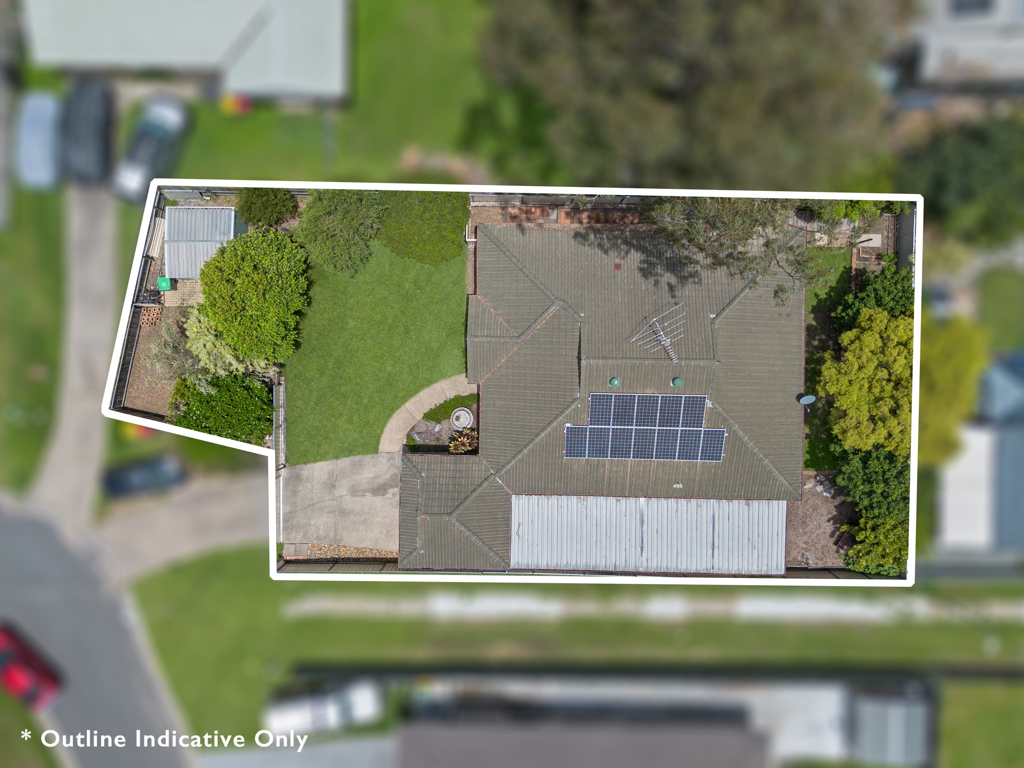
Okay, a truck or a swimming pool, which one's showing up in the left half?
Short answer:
truck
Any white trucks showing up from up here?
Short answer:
Yes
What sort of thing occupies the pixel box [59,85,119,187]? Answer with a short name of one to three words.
van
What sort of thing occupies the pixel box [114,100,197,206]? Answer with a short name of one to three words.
car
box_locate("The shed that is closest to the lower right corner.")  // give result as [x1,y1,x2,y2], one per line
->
[839,690,923,763]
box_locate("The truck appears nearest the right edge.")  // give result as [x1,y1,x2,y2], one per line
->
[264,677,383,740]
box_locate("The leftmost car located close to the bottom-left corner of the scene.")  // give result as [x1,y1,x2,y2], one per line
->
[0,614,74,708]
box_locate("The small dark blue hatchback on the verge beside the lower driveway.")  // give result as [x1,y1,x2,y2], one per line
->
[108,450,195,497]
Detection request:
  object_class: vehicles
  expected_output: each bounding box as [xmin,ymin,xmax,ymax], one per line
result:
[59,85,119,187]
[264,677,383,740]
[114,100,197,206]
[0,614,74,708]
[108,450,195,497]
